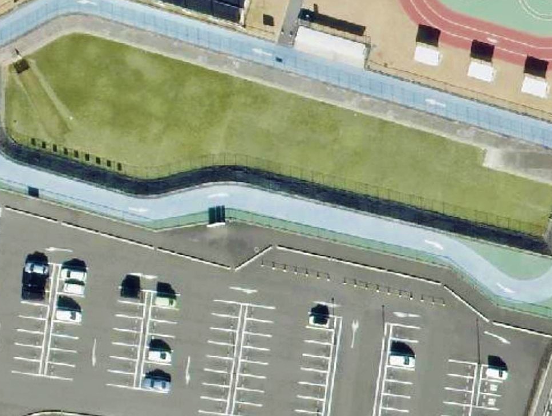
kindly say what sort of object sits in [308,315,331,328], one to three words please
vehicle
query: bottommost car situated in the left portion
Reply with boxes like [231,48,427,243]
[142,380,171,394]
